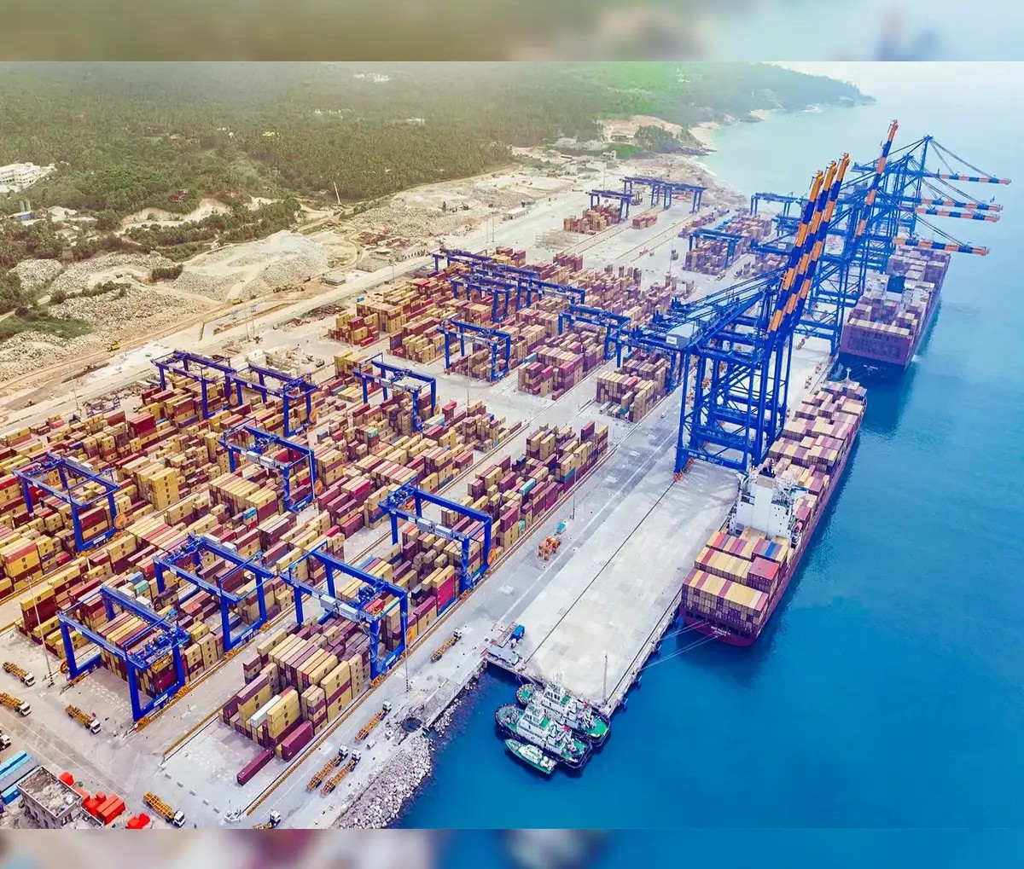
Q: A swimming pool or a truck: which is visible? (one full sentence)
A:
This aerial view contains a truck.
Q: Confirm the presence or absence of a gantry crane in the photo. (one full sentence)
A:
Yes, this view includes a gantry crane.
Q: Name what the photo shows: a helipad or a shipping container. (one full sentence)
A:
Visible in the photo is a shipping container.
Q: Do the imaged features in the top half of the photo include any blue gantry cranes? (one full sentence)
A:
Yes, a blue gantry crane can be seen in the top half of the photo.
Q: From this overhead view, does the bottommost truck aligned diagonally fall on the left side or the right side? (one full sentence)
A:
The bottommost truck aligned diagonally sits on the left side.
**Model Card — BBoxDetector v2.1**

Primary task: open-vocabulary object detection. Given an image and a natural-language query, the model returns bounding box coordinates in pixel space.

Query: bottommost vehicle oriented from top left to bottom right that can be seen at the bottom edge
[140,791,183,830]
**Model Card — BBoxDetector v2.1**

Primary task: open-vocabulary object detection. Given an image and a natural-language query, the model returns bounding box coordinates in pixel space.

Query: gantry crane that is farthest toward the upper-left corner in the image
[154,339,236,420]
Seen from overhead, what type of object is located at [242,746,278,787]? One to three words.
shipping container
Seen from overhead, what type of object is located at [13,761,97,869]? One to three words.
building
